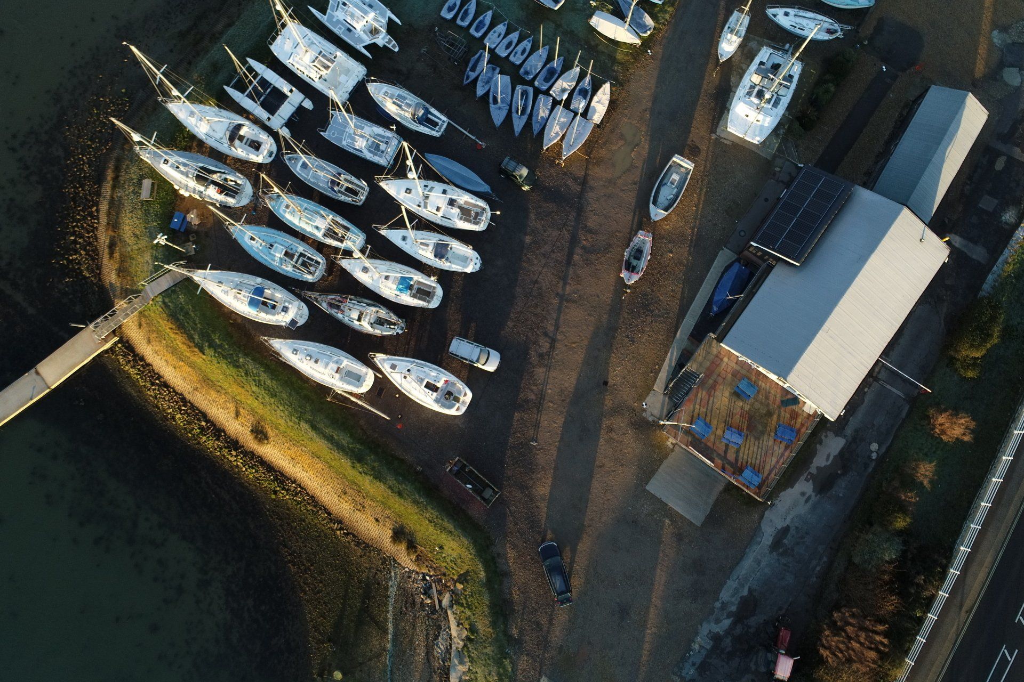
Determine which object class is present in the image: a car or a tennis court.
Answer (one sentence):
Of the two, only a car appears.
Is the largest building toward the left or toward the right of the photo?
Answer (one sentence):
The largest building appears in the right half of the scene.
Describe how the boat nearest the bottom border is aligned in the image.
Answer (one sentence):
In this picture, the boat nearest the bottom border is oriented at an angle.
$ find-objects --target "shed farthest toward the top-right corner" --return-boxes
[860,85,988,224]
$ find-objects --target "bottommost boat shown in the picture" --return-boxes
[446,455,501,508]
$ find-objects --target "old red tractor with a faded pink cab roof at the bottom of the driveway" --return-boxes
[760,607,799,679]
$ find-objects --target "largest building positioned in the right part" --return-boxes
[713,165,951,421]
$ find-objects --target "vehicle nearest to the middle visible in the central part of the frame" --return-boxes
[449,336,501,370]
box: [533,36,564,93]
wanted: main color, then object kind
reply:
blue boat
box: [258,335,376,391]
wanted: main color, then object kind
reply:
white boat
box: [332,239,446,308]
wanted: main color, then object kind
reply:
white boat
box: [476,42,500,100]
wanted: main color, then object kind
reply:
blue boat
